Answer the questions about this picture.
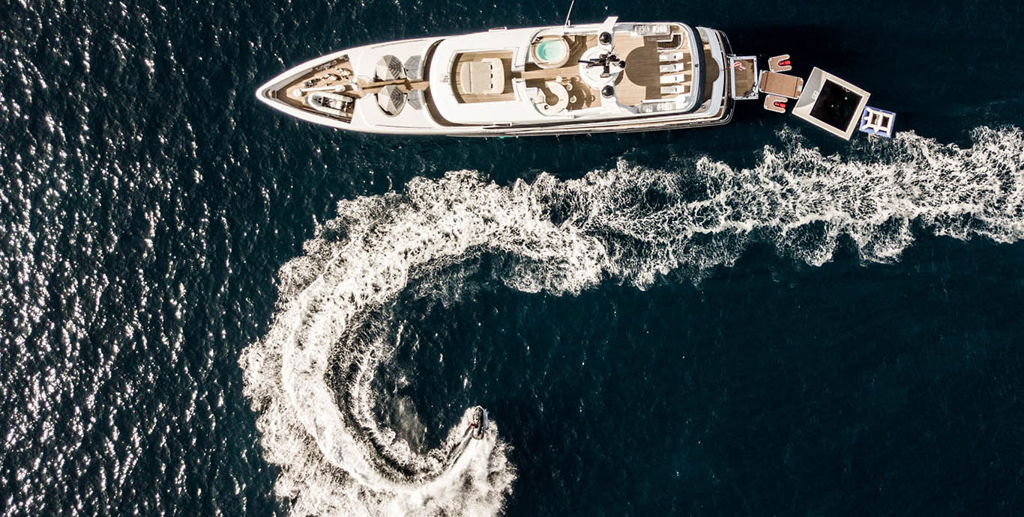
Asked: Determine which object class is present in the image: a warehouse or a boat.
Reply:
boat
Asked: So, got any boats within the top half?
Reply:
Yes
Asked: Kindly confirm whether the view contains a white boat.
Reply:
Yes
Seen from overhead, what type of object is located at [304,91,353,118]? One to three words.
boat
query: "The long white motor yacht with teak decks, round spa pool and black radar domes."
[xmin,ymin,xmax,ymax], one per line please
[254,2,736,139]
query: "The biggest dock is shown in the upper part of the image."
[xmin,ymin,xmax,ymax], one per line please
[732,53,758,100]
